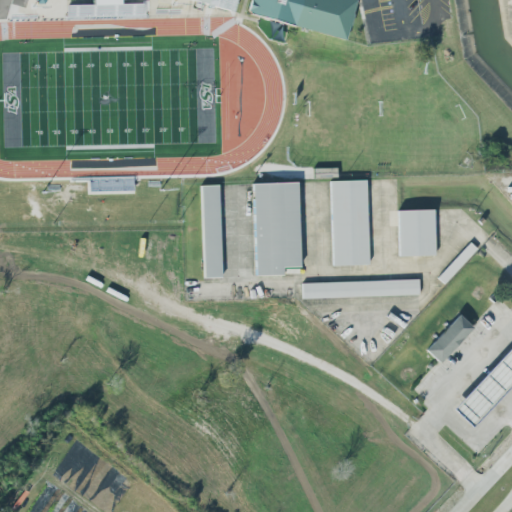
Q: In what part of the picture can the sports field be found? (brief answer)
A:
top left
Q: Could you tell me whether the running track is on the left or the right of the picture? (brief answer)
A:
left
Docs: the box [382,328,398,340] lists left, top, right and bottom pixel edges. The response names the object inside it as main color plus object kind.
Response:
white vehicle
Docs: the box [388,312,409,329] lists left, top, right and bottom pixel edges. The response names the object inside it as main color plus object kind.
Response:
white camper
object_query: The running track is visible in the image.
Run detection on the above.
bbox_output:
[0,16,285,180]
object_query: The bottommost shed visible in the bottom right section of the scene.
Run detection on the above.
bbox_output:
[456,351,512,426]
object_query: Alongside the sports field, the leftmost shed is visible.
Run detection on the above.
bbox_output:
[202,185,223,276]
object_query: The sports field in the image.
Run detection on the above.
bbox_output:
[0,34,220,160]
